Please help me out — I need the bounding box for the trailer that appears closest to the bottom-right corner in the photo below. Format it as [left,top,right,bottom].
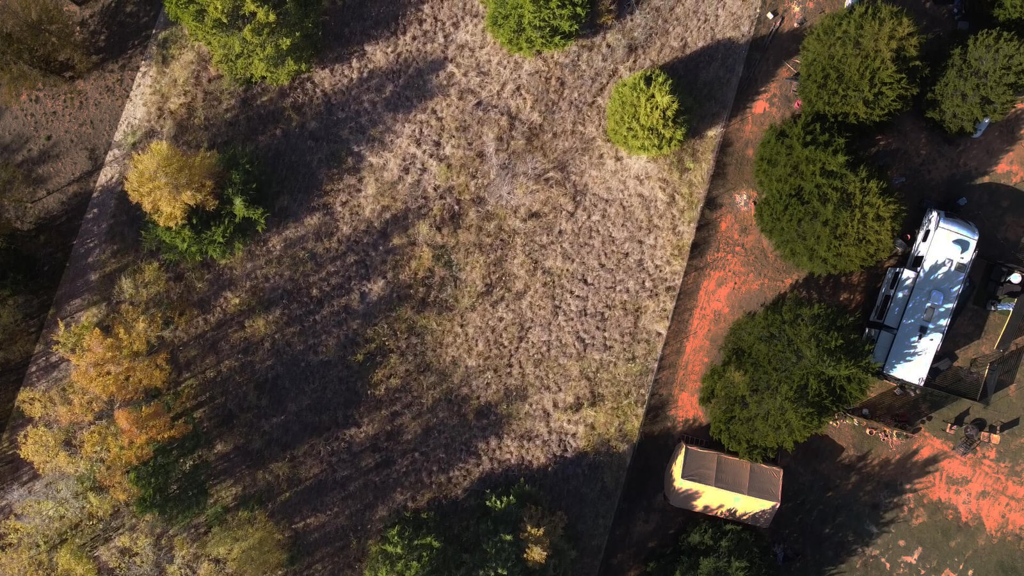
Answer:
[852,211,976,387]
